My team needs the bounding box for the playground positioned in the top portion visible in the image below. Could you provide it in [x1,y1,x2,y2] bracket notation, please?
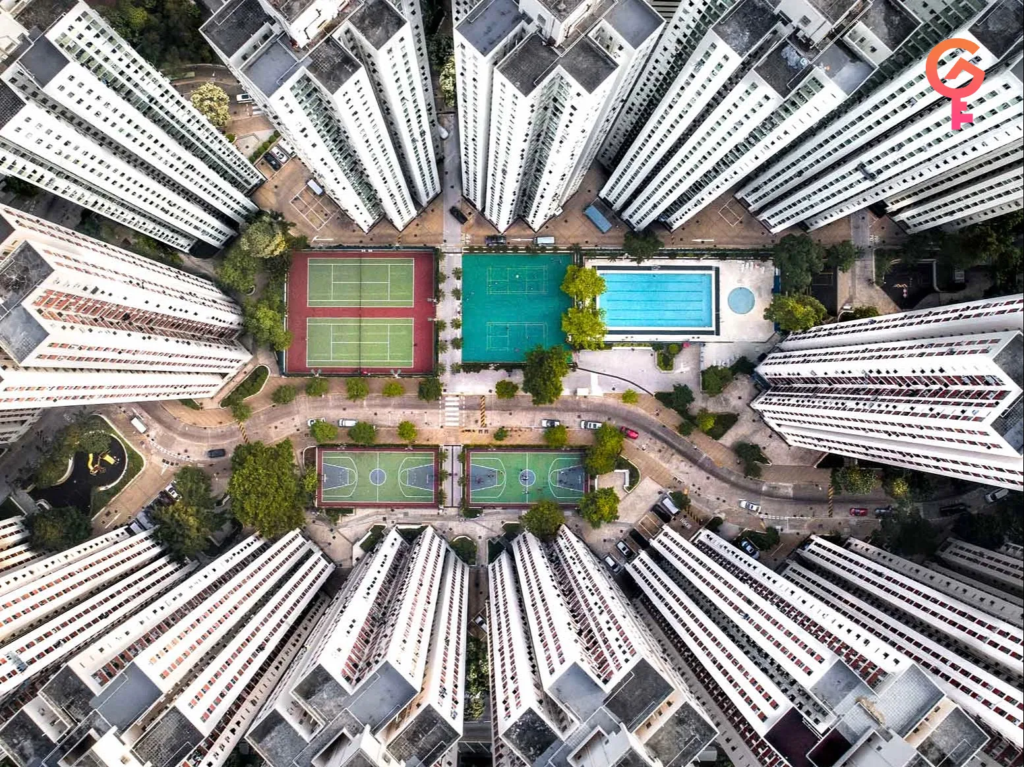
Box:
[879,260,937,310]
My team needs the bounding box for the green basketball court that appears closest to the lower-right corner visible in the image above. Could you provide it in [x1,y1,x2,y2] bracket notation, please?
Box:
[466,448,588,508]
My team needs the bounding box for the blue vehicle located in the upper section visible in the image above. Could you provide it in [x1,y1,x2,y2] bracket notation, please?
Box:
[584,206,615,233]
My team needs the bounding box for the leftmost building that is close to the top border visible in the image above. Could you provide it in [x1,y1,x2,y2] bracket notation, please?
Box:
[0,0,266,251]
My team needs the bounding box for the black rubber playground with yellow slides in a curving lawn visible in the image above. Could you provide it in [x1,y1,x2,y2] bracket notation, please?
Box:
[32,436,124,513]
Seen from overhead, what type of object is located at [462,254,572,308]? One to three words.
sports court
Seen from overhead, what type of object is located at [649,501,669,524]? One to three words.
vehicle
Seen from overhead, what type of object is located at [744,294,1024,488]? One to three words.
building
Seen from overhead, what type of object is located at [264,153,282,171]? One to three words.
car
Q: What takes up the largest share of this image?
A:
buildings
